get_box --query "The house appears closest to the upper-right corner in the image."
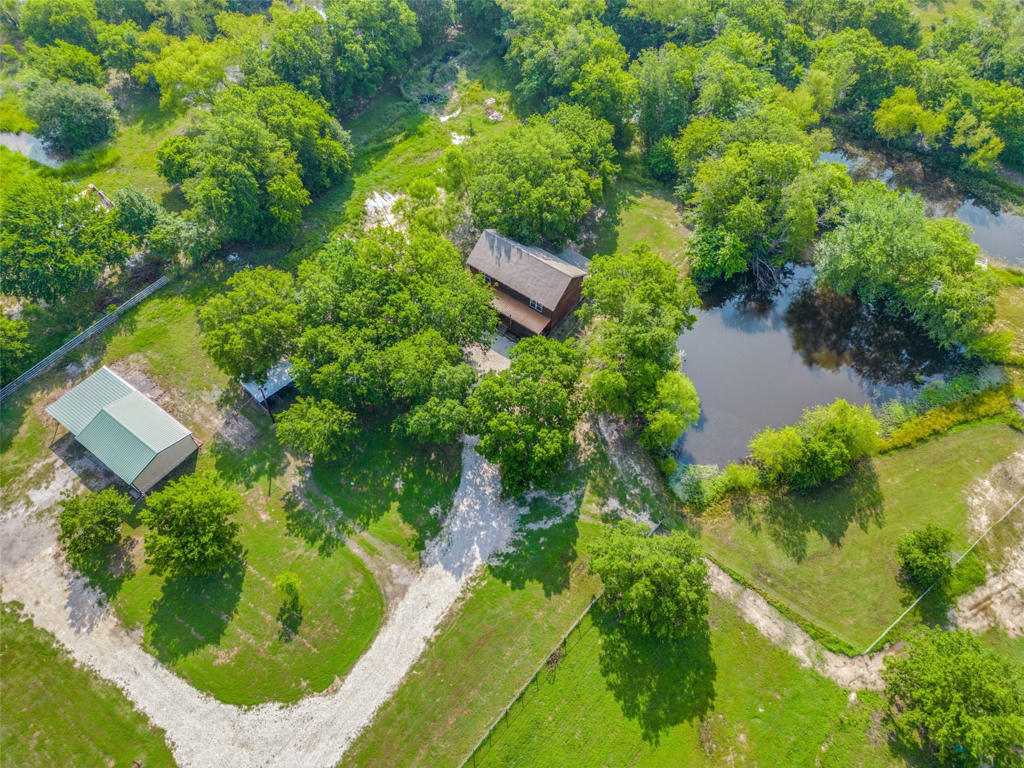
[466,230,593,339]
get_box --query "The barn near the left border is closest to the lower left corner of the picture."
[44,366,198,496]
